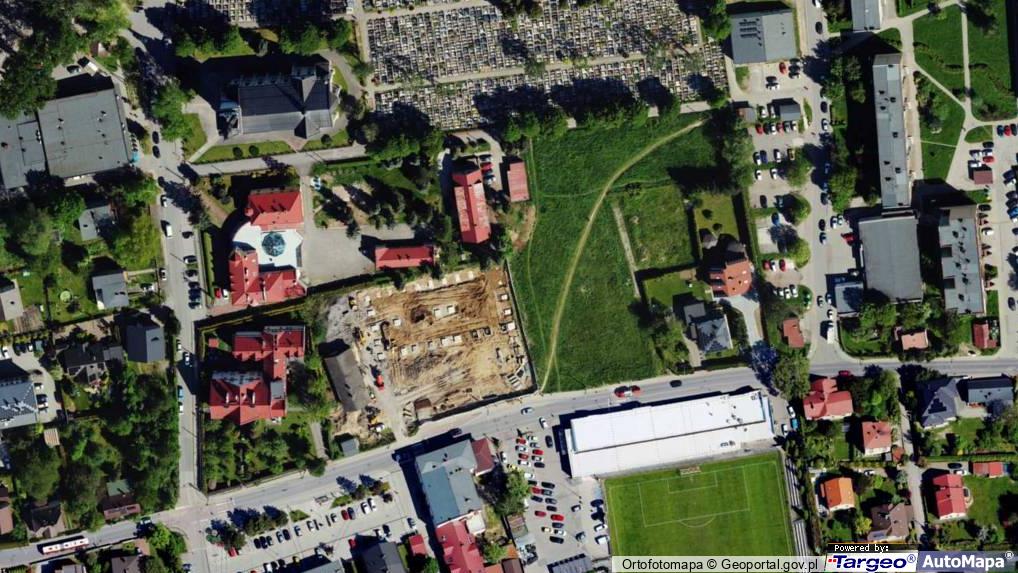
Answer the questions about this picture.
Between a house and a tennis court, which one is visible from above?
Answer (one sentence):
Of the two, only a house appears.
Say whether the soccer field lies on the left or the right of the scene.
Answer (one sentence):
You can find the soccer field on the right side of the picture.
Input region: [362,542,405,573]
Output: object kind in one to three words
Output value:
house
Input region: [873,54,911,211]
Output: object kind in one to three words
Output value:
building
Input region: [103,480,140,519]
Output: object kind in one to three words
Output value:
house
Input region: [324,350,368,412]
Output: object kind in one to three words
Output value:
barn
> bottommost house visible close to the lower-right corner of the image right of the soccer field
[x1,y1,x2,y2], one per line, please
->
[867,503,914,540]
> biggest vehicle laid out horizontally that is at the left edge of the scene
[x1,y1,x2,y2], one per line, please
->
[44,536,90,553]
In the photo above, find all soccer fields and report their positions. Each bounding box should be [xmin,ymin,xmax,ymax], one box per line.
[603,452,795,573]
